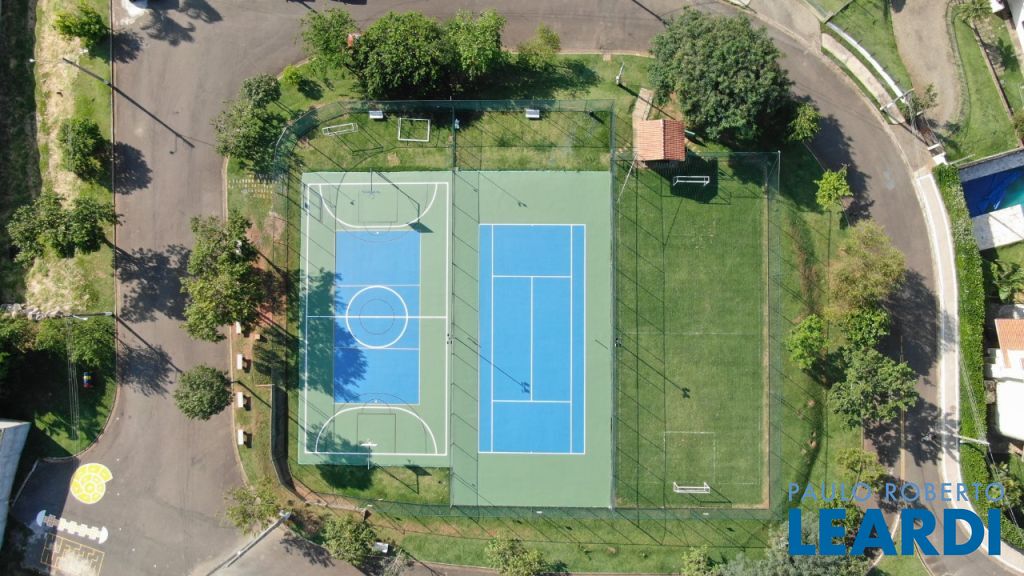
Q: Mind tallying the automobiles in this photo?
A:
none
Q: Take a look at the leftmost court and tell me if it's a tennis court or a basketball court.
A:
basketball court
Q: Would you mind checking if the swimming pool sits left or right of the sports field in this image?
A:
to the right of it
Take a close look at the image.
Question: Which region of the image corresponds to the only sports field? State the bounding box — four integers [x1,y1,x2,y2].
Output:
[613,160,766,506]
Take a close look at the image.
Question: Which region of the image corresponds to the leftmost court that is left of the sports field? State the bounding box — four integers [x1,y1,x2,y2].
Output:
[298,171,453,466]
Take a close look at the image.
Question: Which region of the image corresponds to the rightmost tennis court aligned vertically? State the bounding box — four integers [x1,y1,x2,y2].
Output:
[453,171,611,507]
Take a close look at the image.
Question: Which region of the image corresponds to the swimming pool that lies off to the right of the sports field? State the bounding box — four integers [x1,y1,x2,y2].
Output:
[964,150,1024,251]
